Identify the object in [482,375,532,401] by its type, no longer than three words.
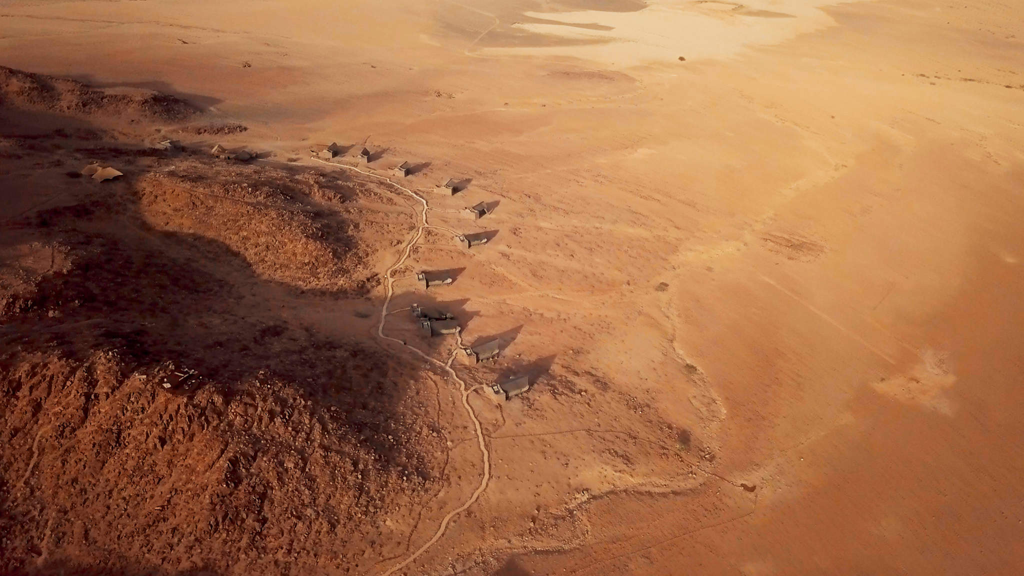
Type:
house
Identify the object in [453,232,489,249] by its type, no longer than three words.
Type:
house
